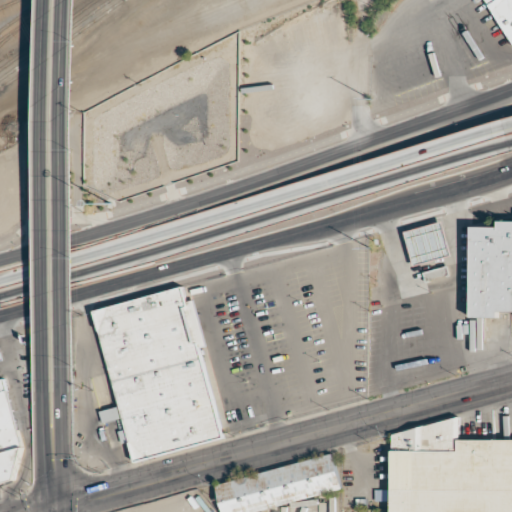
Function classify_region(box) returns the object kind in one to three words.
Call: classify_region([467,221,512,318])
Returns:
building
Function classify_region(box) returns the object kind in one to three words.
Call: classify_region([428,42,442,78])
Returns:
vehicle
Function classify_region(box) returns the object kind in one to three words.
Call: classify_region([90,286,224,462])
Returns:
warehouse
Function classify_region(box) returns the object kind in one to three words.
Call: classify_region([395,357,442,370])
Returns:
vehicle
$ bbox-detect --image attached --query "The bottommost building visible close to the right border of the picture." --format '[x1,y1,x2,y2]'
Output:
[388,439,512,512]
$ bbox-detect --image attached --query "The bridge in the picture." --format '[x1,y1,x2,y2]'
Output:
[28,0,73,468]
